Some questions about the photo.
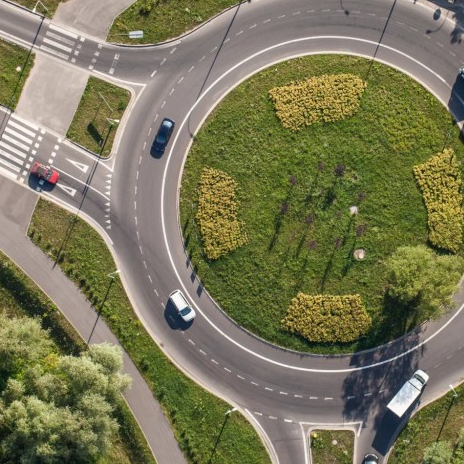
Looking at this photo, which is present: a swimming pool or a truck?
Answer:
truck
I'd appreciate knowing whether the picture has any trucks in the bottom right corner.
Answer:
Yes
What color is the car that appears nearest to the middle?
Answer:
white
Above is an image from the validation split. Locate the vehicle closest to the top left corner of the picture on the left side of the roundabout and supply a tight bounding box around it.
[30,163,59,183]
